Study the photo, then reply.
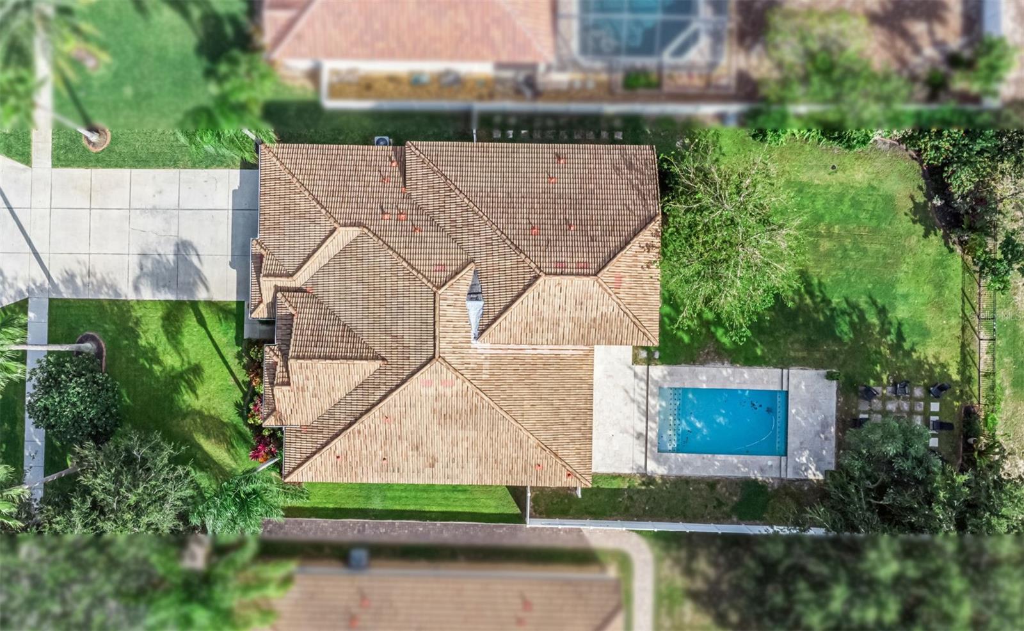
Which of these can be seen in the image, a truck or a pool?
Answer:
pool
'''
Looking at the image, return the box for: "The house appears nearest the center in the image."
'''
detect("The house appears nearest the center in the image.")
[248,139,663,496]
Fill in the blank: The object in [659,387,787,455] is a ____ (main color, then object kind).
blue swimming pool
